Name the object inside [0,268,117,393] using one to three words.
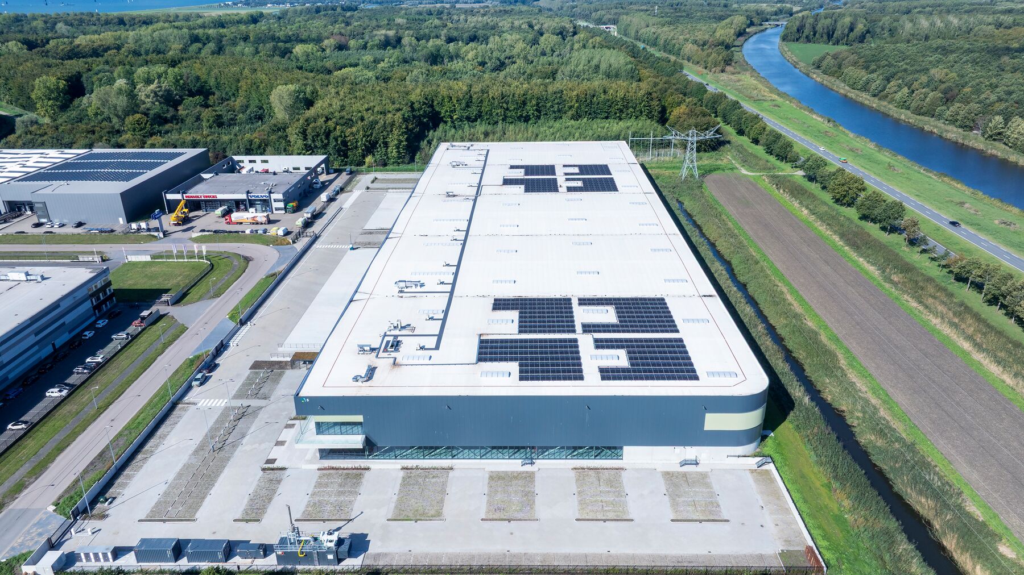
building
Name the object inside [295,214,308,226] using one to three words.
vehicle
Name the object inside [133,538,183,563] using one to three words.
shipping container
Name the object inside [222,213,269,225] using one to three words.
vehicle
